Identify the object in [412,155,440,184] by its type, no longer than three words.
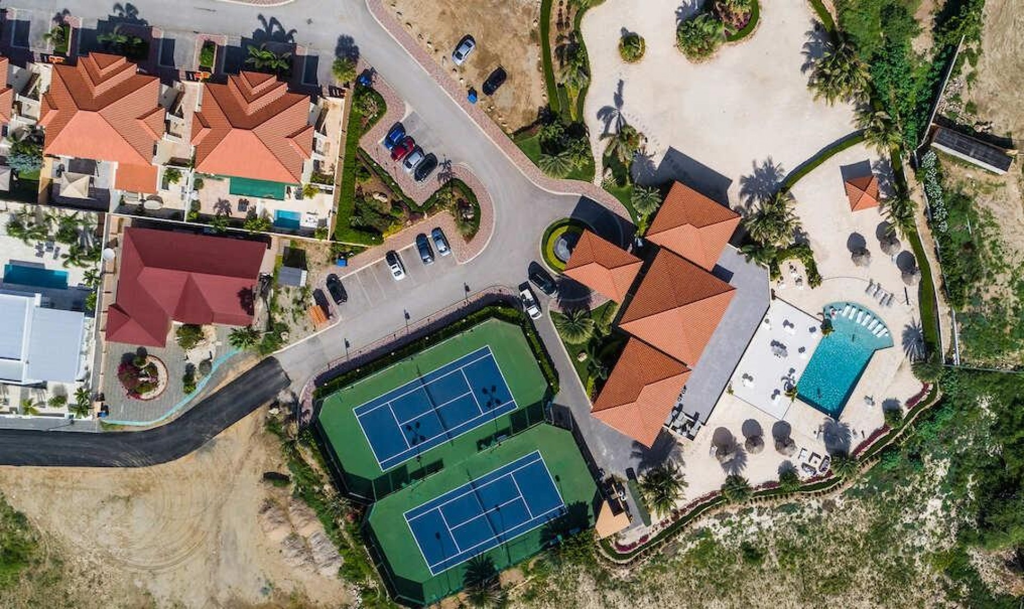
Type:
car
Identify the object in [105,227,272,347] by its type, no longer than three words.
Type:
house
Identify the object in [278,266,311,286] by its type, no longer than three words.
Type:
shed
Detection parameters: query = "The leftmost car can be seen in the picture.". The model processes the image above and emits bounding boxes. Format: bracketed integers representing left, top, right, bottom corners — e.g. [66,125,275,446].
[326,275,350,306]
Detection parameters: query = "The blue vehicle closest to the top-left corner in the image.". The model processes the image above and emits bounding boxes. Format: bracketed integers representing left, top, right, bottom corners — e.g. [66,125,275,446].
[382,126,406,150]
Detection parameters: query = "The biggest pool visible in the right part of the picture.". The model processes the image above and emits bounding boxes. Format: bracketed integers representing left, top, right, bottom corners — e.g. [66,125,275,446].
[796,299,896,421]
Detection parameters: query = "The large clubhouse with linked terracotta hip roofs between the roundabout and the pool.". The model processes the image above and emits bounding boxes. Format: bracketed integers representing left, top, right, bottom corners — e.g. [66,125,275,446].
[563,181,772,448]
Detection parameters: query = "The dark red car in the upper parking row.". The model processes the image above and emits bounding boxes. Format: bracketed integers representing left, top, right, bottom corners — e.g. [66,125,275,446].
[389,137,417,164]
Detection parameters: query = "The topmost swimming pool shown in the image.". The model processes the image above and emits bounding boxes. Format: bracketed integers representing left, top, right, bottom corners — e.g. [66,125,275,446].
[272,208,303,231]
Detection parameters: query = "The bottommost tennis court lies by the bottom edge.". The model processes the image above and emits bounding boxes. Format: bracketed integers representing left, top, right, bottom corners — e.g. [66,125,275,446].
[367,423,599,606]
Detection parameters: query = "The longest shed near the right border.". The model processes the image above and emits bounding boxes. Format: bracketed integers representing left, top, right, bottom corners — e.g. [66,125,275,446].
[924,126,1017,175]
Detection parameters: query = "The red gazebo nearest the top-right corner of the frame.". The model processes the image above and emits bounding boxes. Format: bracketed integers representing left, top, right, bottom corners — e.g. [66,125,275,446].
[845,175,880,211]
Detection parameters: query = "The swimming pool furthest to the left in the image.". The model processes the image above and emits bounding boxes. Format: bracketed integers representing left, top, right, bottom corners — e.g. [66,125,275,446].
[0,263,69,291]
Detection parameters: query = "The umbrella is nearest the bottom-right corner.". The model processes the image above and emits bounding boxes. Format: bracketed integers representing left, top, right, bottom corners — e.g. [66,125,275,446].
[776,437,795,456]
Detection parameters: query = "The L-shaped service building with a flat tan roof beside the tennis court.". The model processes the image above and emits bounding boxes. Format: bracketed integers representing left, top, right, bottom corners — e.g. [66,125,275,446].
[595,480,630,538]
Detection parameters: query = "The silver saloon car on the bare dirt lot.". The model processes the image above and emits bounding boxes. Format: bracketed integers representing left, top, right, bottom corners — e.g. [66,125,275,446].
[452,37,475,66]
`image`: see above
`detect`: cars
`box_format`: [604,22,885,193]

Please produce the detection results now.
[389,137,417,164]
[382,126,406,150]
[484,69,505,95]
[386,251,407,281]
[415,235,436,265]
[412,155,440,184]
[326,275,350,306]
[400,147,427,174]
[431,228,452,258]
[452,37,475,66]
[530,267,558,297]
